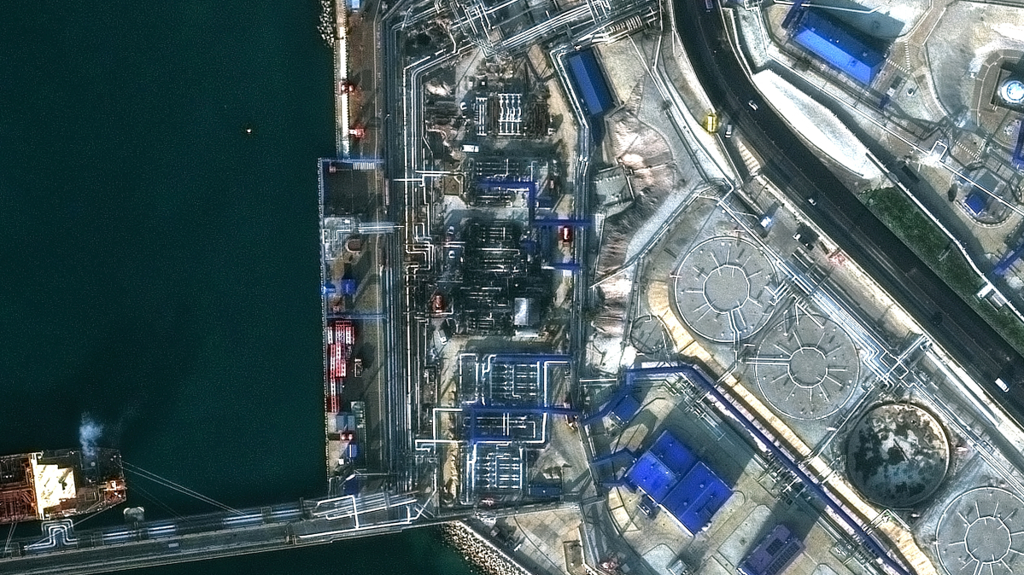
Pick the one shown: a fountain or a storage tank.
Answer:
storage tank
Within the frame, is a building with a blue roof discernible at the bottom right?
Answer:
Yes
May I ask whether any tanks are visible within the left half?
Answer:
No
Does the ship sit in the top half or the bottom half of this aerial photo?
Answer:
bottom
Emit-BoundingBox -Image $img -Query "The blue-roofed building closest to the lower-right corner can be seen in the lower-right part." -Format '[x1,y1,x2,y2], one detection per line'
[738,525,804,575]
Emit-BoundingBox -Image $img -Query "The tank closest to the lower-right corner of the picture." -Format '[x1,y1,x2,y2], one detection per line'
[936,489,1024,575]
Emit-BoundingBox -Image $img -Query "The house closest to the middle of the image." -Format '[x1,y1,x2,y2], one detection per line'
[514,298,540,327]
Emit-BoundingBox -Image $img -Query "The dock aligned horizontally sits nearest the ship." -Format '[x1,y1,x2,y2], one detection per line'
[0,490,447,575]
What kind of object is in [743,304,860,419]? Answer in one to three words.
storage tank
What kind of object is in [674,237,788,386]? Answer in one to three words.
storage tank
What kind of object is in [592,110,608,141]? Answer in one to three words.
building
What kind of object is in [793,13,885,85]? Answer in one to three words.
building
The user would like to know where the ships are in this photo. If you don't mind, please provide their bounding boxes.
[0,449,126,522]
